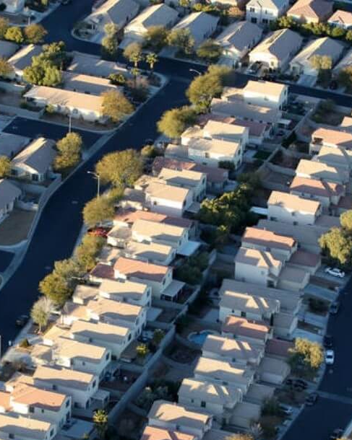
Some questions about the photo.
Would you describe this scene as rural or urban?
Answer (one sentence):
It looks urban.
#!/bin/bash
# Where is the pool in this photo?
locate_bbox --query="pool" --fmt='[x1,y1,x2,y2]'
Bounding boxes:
[182,323,221,338]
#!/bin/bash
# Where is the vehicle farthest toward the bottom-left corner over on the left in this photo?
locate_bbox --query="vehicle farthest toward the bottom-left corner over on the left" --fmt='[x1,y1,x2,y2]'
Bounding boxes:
[14,316,31,328]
